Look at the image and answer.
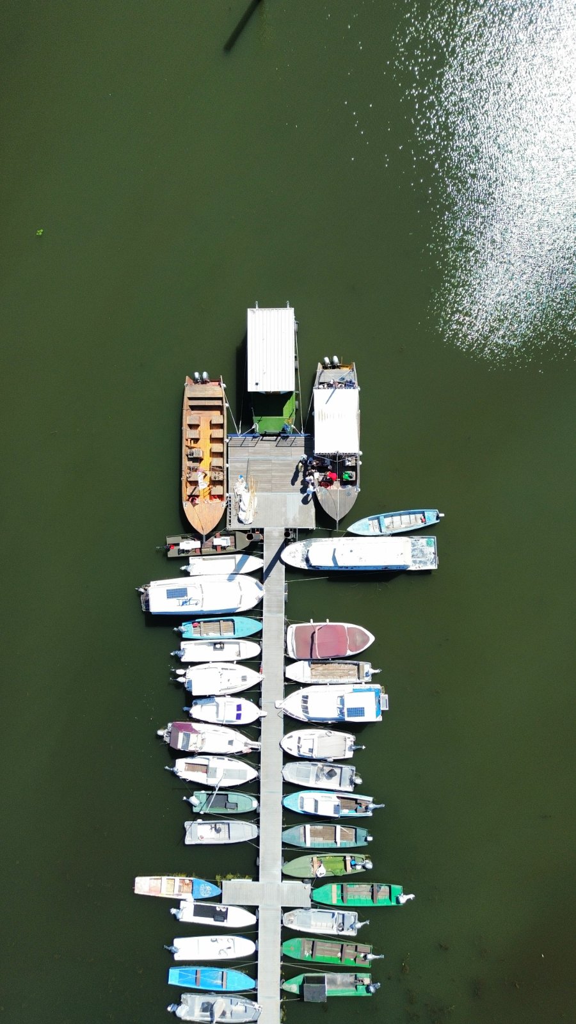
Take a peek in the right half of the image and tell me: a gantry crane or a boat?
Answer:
boat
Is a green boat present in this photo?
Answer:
Yes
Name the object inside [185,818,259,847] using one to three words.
boat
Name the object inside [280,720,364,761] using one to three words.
boat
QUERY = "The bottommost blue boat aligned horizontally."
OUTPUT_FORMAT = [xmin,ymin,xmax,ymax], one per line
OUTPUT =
[168,962,257,992]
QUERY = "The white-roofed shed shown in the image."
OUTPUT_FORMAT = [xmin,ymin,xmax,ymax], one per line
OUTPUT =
[239,302,305,435]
